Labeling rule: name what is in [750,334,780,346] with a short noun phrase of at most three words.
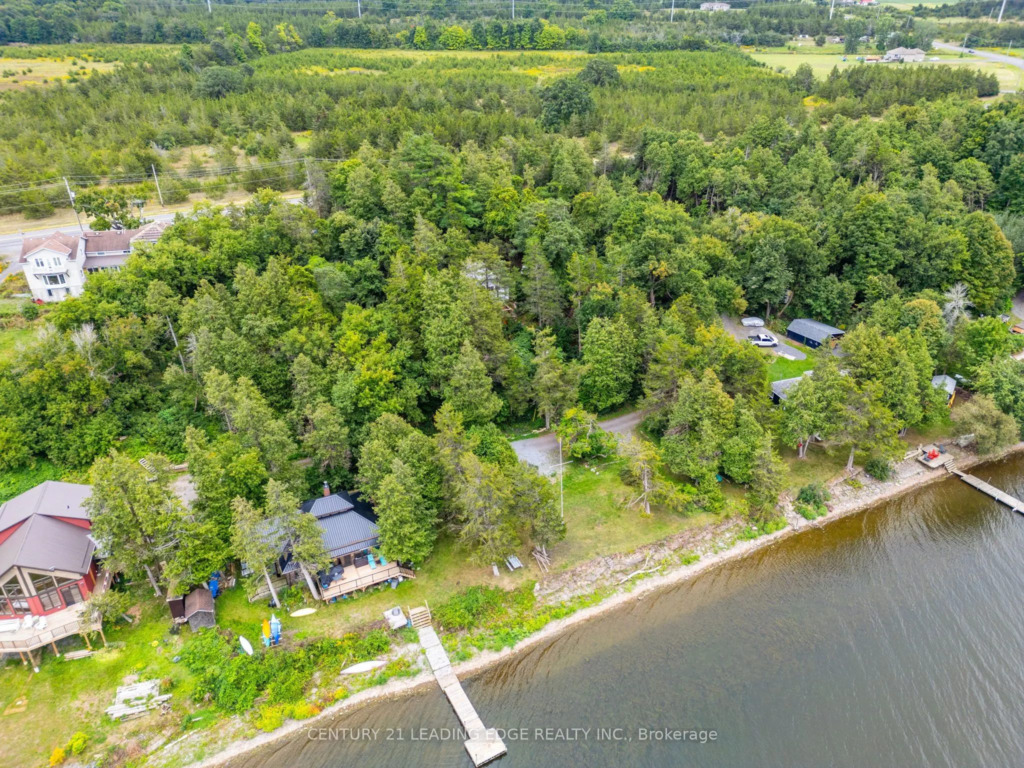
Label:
vehicle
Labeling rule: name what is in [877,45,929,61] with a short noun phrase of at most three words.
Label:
house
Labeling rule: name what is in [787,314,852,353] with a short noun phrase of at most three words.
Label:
building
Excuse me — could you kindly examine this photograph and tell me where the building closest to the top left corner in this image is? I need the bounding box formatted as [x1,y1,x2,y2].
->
[19,221,173,302]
